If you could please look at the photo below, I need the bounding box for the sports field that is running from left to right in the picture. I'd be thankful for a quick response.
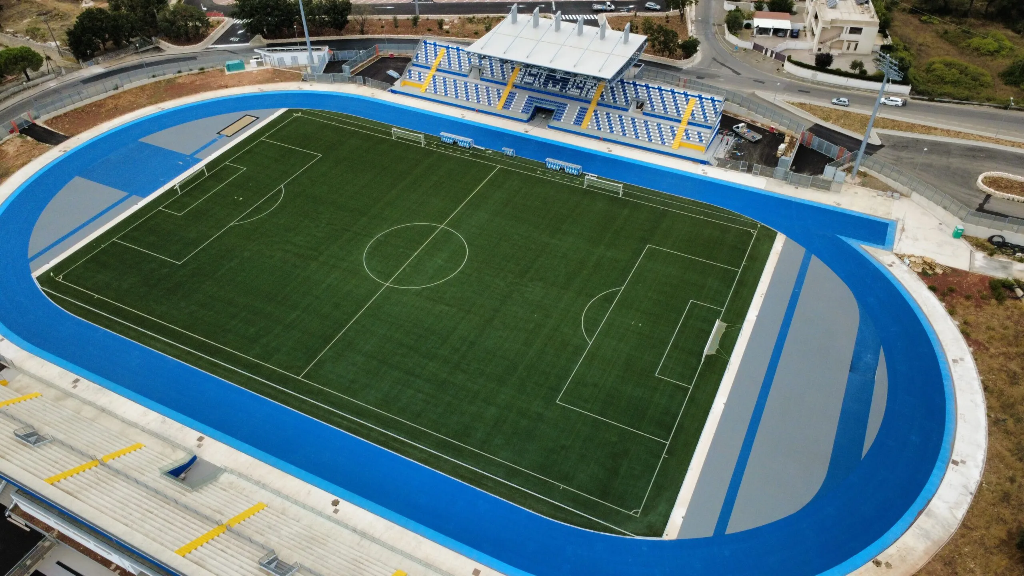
[35,109,776,538]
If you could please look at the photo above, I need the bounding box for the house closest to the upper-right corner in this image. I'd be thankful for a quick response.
[790,0,882,56]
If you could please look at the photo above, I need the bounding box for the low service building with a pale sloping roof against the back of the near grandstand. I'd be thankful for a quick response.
[6,493,156,576]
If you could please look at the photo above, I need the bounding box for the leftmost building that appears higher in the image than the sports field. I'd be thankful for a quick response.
[253,42,326,67]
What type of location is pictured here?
sports ground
